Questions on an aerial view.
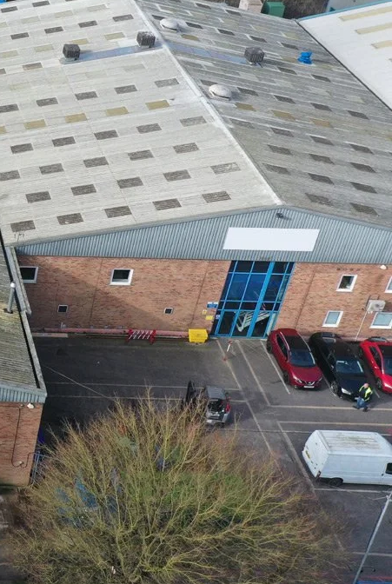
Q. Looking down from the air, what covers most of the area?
buildings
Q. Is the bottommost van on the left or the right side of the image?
right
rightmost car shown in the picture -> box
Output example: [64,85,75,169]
[359,333,392,389]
